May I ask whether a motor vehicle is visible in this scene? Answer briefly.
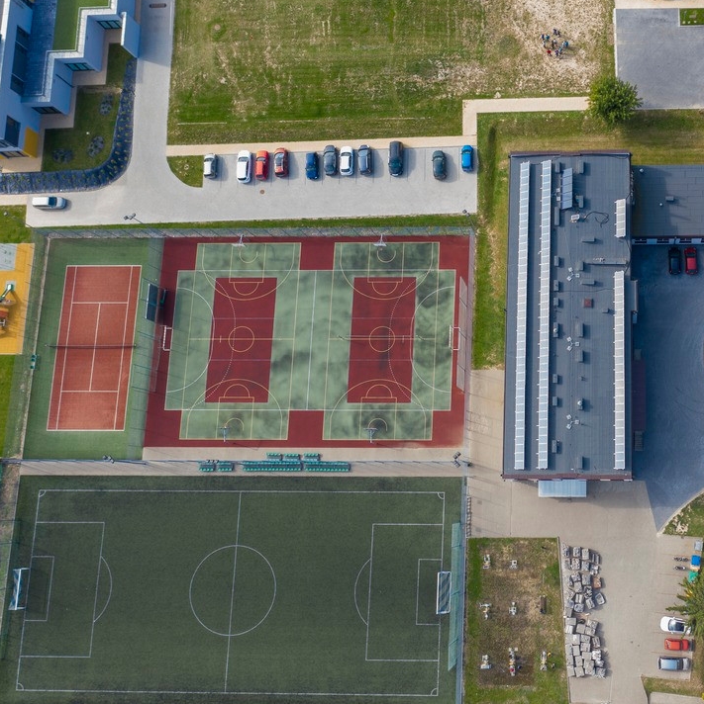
Yes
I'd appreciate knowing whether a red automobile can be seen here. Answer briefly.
Yes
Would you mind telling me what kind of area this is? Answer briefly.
sports ground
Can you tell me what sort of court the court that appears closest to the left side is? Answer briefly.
tennis court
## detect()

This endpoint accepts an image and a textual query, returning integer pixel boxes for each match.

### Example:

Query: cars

[235,152,252,182]
[658,616,692,633]
[656,655,690,673]
[683,247,697,275]
[357,146,372,175]
[273,150,289,176]
[304,153,319,179]
[459,147,473,172]
[321,146,338,176]
[339,147,354,176]
[254,153,270,179]
[662,638,689,653]
[203,153,219,180]
[431,152,447,180]
[668,247,681,275]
